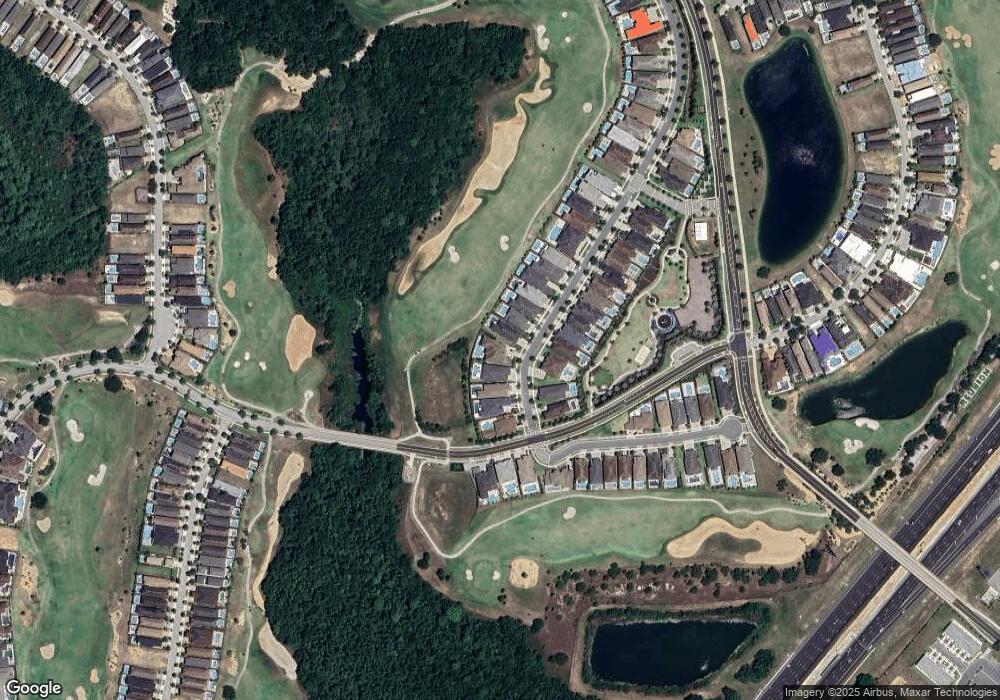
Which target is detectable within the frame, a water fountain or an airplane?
water fountain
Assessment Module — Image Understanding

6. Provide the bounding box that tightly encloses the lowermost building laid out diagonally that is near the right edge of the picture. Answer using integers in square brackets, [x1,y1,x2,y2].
[915,654,958,690]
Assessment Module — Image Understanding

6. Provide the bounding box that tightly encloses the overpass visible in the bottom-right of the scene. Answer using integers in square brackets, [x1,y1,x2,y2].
[855,516,960,607]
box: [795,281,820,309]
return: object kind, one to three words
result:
house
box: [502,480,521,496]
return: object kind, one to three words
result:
swimming pool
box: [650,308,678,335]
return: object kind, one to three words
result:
fountain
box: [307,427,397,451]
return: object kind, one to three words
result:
bridge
